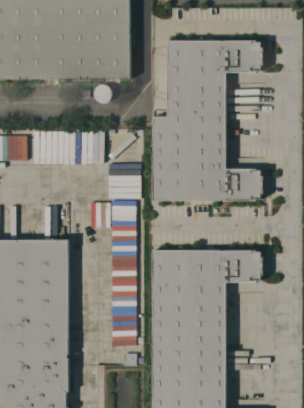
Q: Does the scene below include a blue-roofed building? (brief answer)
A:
No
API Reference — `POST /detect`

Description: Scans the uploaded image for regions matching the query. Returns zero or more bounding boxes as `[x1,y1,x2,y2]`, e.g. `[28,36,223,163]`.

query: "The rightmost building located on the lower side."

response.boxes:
[152,248,262,408]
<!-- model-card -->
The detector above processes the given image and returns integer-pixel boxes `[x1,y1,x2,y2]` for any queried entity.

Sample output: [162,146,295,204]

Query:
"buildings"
[152,248,262,408]
[0,0,134,80]
[152,40,262,200]
[0,238,71,408]
[125,352,138,366]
